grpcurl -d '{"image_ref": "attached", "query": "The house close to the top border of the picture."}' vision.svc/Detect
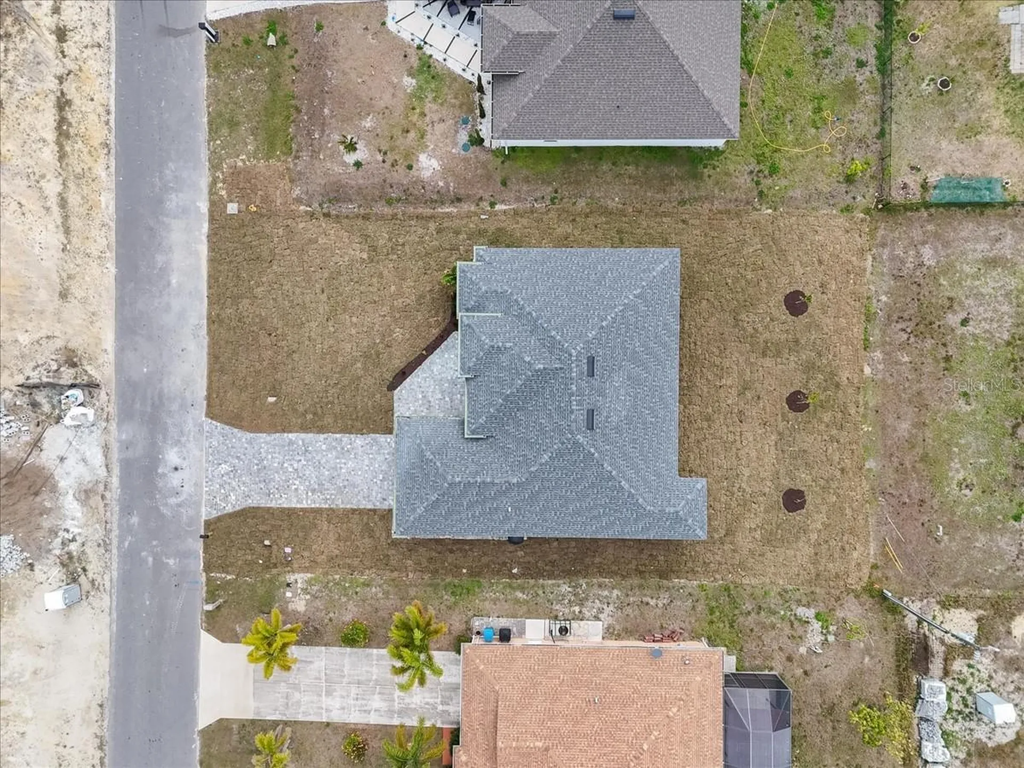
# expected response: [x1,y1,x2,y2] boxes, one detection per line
[479,0,741,155]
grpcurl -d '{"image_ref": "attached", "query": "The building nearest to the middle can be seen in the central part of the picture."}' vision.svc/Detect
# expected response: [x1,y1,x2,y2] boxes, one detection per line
[392,245,708,540]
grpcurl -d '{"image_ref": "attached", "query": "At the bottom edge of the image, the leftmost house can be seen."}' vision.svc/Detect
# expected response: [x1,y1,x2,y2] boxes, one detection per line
[451,634,727,768]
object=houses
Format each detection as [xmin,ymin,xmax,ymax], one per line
[451,634,727,768]
[479,0,741,155]
[392,245,708,540]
